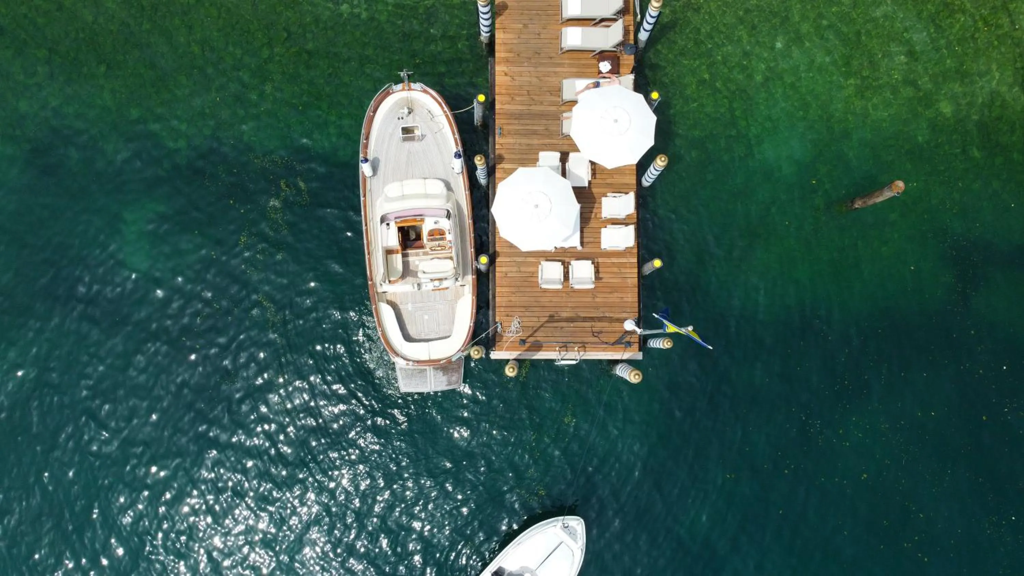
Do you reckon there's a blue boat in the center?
No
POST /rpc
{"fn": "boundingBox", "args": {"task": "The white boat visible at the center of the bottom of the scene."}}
[478,515,586,576]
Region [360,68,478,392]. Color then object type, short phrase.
white boat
